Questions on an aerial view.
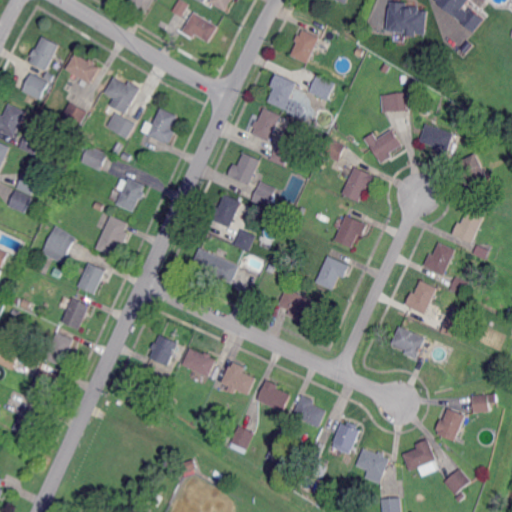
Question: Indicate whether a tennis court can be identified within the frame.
No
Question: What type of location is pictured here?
residential area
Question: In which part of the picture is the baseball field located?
bottom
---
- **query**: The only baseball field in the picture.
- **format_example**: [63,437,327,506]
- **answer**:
[170,476,236,512]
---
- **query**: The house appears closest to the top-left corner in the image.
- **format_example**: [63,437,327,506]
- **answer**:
[28,36,60,70]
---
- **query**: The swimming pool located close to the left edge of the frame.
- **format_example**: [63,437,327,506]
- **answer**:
[0,230,26,256]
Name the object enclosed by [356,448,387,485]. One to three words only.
house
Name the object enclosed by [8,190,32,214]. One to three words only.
building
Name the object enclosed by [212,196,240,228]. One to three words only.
house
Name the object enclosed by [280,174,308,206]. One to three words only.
swimming pool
